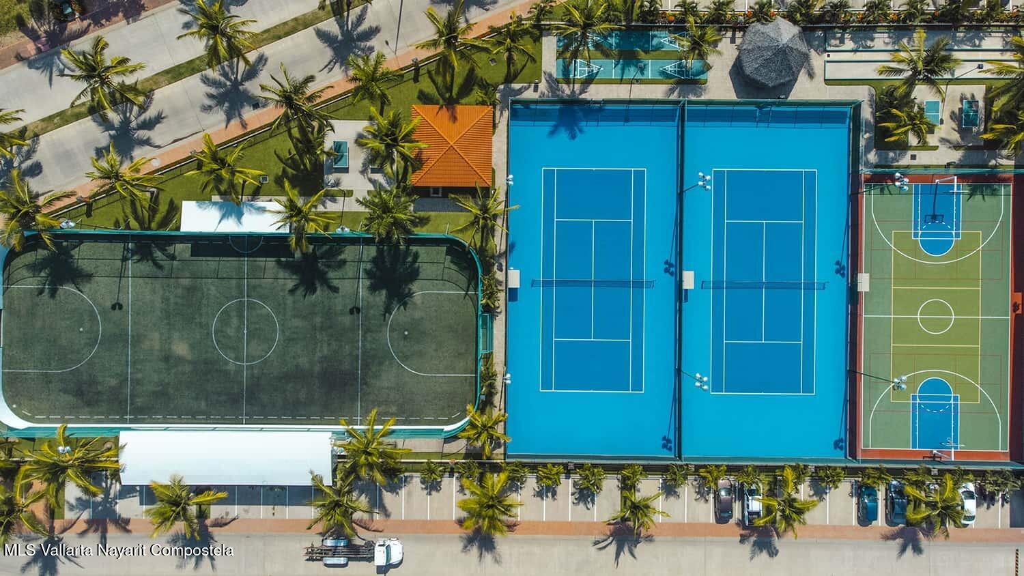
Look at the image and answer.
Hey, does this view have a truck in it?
Yes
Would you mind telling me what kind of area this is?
sports ground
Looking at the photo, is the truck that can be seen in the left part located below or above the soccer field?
below it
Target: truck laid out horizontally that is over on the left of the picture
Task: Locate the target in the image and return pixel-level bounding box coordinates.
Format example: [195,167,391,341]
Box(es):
[306,536,408,569]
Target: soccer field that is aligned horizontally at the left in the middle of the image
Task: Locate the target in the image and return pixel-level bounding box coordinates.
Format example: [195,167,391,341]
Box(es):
[1,236,489,426]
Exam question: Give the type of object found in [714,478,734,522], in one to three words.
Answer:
car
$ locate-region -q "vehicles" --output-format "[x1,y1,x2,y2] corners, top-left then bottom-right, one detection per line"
[955,481,979,526]
[714,478,734,522]
[858,484,880,523]
[886,480,909,525]
[306,536,408,569]
[742,477,763,527]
